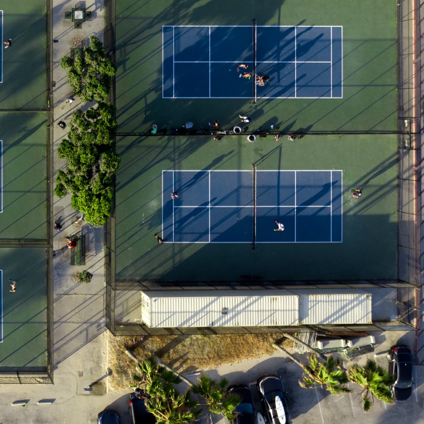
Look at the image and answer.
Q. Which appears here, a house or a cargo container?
cargo container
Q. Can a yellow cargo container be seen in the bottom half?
No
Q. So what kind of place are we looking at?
sports ground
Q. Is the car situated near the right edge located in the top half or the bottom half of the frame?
bottom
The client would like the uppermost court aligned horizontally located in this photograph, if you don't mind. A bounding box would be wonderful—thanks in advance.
[108,0,396,133]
